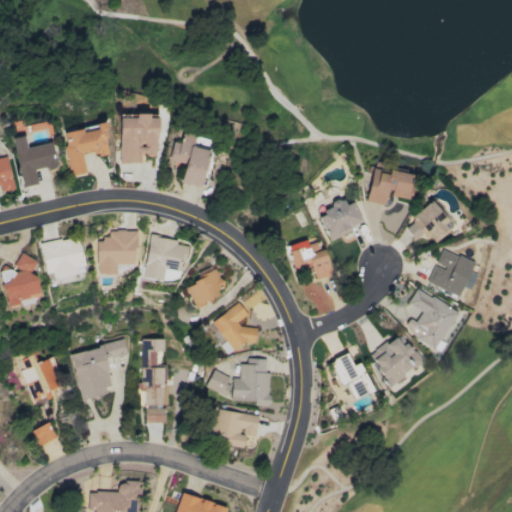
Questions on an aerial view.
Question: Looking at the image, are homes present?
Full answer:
Yes, a home appears in the view.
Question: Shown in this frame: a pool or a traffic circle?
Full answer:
I can see a pool in this picture.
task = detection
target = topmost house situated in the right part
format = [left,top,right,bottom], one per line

[370,167,416,204]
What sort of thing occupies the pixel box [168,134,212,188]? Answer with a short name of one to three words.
house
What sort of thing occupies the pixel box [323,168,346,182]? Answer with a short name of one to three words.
swimming pool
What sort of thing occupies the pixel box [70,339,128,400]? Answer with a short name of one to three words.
house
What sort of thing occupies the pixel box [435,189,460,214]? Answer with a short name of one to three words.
swimming pool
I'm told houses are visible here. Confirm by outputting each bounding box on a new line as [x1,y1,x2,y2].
[232,358,270,403]
[407,289,460,352]
[21,355,62,402]
[168,134,212,188]
[66,123,112,176]
[14,136,59,187]
[98,230,138,274]
[370,167,416,204]
[206,370,232,399]
[0,155,14,194]
[336,354,376,401]
[214,412,259,449]
[0,253,44,308]
[321,202,367,244]
[188,270,228,306]
[40,240,88,286]
[144,234,190,280]
[70,339,128,400]
[214,303,260,356]
[88,481,142,512]
[292,240,336,281]
[176,494,229,512]
[138,340,168,424]
[121,112,160,163]
[374,338,422,386]
[409,202,454,241]
[428,248,478,294]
